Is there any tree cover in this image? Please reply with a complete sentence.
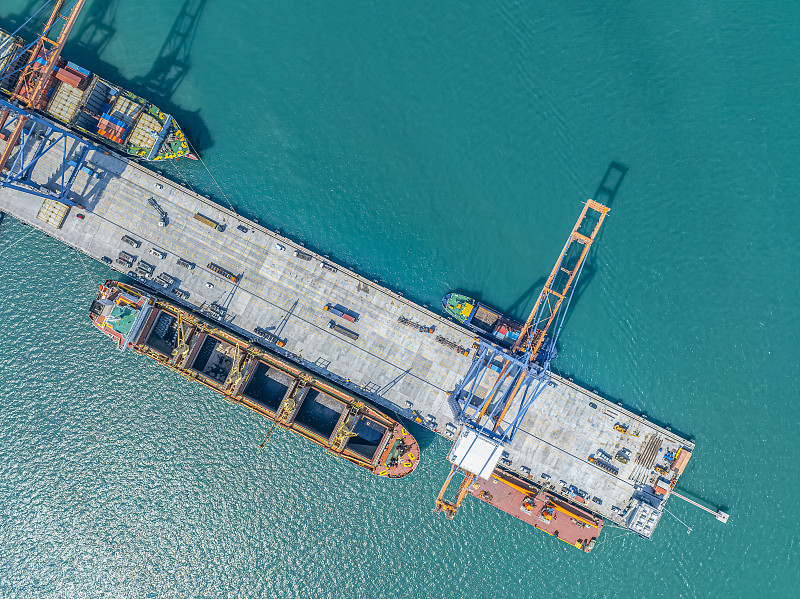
No, tree cover can't be seen anywhere here.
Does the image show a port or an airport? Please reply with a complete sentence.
This image shows a port.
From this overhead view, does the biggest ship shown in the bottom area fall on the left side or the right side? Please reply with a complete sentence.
It is on the left.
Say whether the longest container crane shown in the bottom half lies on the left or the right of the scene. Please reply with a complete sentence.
It is on the right.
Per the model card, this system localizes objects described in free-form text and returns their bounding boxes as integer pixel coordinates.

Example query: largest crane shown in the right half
[429,198,612,523]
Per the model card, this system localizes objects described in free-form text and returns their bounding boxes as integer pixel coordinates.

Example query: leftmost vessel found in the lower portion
[83,280,421,479]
